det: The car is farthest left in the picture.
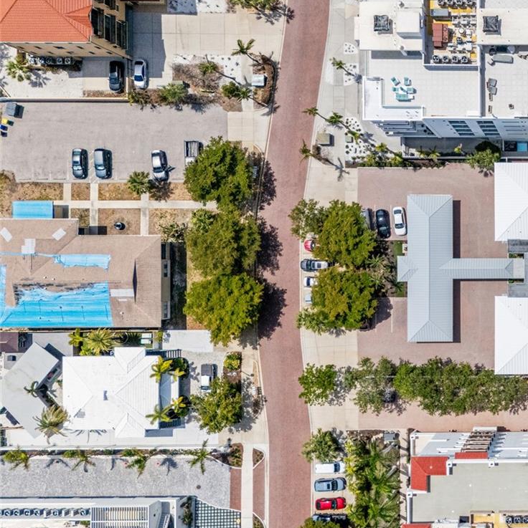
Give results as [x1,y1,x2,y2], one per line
[72,148,89,178]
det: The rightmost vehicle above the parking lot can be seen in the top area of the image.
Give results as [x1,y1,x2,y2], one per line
[132,58,149,90]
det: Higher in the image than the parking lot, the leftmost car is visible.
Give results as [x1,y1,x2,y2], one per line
[106,61,124,92]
